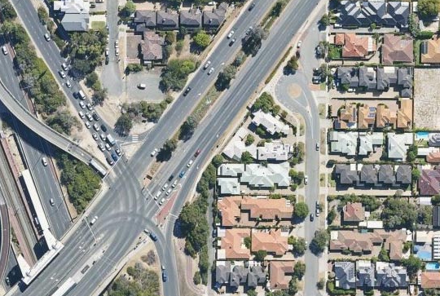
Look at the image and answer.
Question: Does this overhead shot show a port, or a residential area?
residential area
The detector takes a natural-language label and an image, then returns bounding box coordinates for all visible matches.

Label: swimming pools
[417,250,432,261]
[416,131,430,140]
[425,261,440,272]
